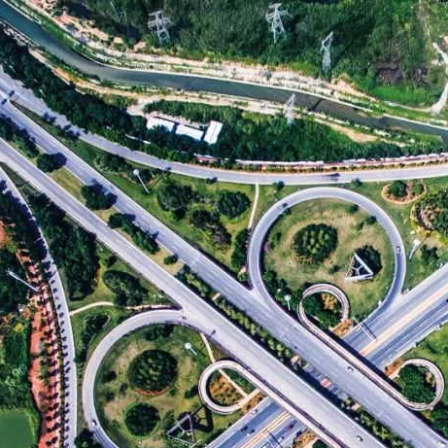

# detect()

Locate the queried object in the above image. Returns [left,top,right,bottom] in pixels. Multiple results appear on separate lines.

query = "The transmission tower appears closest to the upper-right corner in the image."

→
[321,27,333,77]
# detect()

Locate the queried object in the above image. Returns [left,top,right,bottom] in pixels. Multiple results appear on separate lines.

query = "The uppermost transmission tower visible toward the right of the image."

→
[262,0,285,45]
